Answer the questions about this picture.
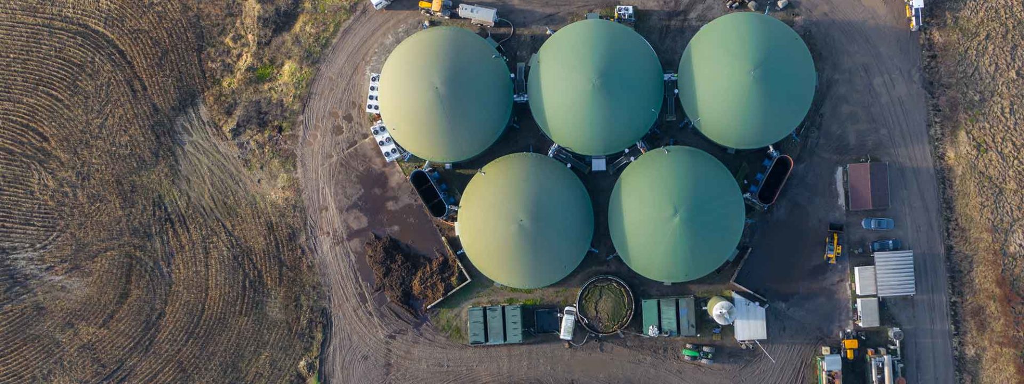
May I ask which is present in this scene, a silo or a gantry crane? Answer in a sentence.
It is a silo that can be seen here.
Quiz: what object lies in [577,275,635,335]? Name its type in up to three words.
storage tank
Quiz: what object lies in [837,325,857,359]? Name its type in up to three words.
work vehicle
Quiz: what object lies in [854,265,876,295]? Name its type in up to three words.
building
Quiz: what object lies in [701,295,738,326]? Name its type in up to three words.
silo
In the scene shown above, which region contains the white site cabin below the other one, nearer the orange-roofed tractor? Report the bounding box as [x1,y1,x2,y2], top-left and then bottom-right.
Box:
[856,296,880,327]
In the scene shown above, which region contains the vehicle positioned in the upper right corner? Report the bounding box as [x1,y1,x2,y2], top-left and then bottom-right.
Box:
[901,0,924,34]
